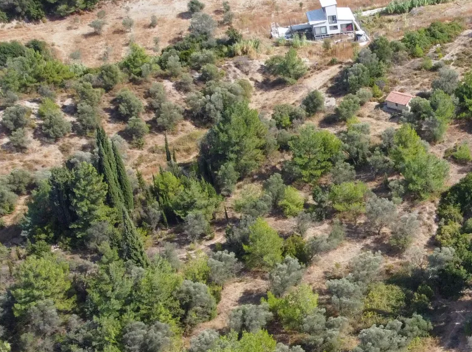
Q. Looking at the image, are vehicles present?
No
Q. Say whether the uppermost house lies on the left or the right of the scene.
right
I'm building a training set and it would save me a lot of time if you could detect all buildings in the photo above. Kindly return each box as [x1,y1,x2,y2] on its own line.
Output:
[382,89,418,113]
[302,0,354,37]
